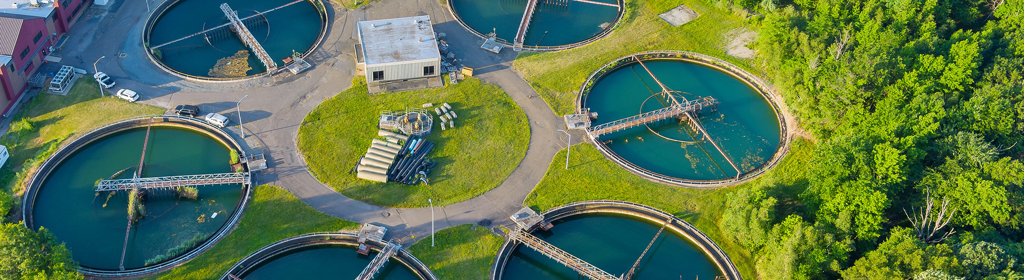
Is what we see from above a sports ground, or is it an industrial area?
industrial area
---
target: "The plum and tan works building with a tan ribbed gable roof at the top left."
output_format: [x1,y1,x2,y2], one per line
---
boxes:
[0,0,94,122]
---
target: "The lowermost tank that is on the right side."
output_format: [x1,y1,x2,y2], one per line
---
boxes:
[493,198,742,280]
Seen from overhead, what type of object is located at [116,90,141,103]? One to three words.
vehicle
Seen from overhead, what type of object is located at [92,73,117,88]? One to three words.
vehicle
